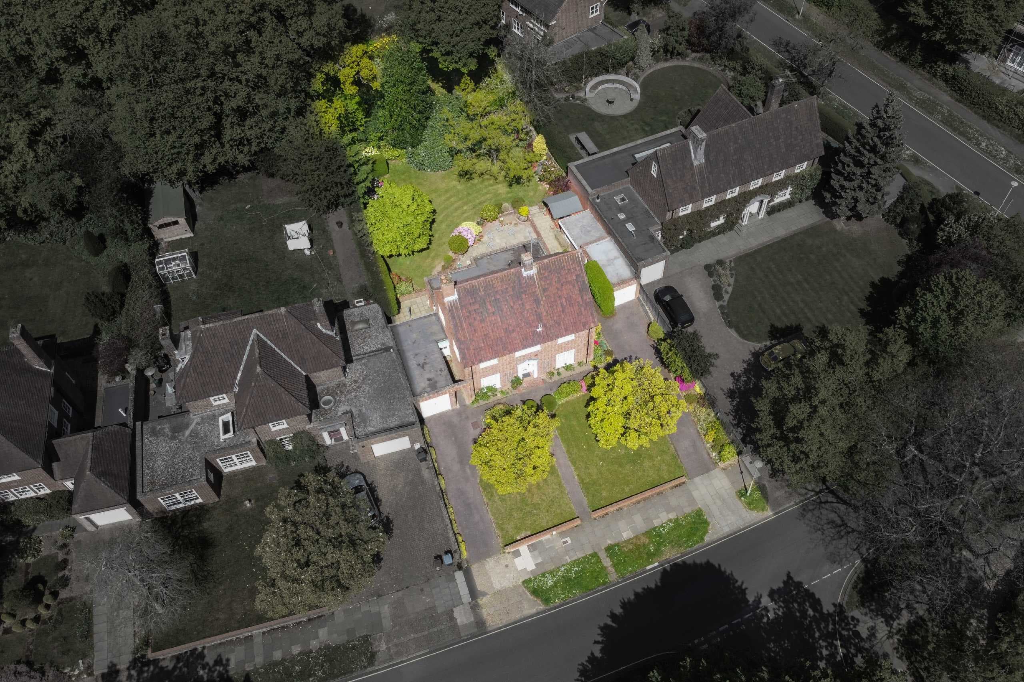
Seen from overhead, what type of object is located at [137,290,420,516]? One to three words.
house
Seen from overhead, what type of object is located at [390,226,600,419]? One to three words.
house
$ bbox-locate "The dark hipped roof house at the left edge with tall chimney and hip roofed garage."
[0,319,150,531]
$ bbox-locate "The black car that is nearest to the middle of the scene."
[655,285,696,332]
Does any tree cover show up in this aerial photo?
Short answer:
Yes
